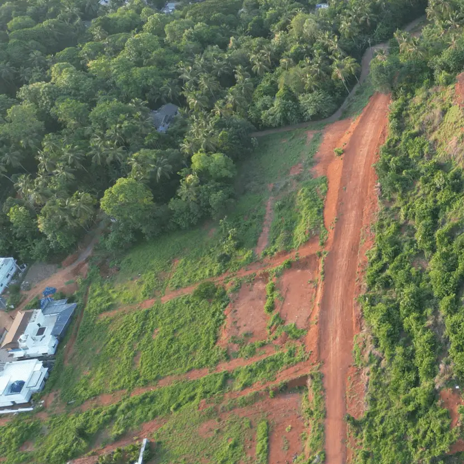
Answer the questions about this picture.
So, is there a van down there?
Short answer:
No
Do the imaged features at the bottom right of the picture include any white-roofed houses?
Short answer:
No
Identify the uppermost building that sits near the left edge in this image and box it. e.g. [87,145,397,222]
[0,257,38,322]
